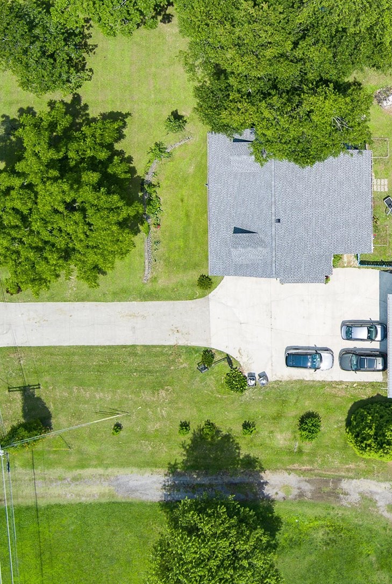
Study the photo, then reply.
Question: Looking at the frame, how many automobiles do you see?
3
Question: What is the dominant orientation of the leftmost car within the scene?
from left to right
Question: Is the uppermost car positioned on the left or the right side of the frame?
right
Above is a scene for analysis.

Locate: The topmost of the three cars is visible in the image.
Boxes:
[342,321,386,342]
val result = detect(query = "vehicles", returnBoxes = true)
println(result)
[286,348,334,371]
[342,321,386,342]
[341,350,386,373]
